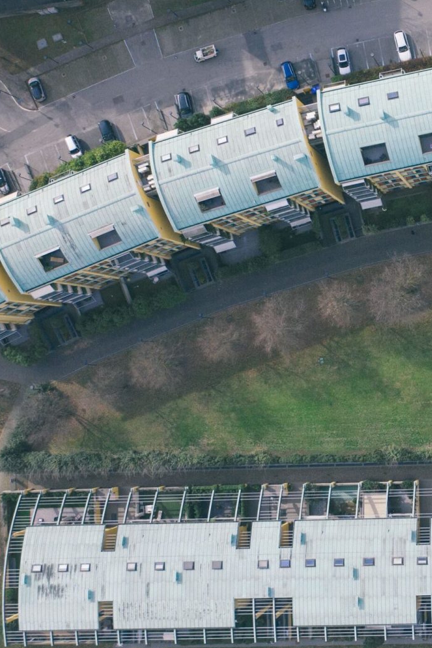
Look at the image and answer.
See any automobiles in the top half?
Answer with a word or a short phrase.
Yes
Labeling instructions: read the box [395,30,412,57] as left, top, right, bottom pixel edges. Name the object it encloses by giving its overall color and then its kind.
white car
